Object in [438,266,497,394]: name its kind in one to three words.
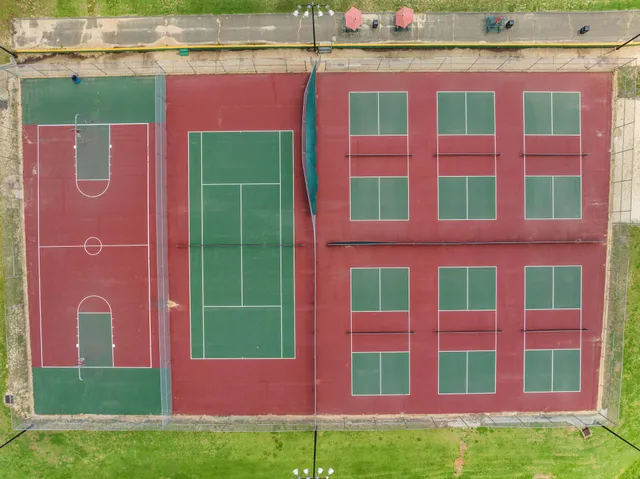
sports court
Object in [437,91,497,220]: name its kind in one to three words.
sports court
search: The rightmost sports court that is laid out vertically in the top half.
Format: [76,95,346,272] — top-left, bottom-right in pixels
[524,91,582,219]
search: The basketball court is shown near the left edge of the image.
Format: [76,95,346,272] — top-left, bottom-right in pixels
[20,74,171,415]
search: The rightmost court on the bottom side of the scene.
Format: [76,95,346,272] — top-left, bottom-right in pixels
[524,266,582,393]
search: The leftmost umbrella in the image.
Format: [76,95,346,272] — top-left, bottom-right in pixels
[344,9,364,31]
